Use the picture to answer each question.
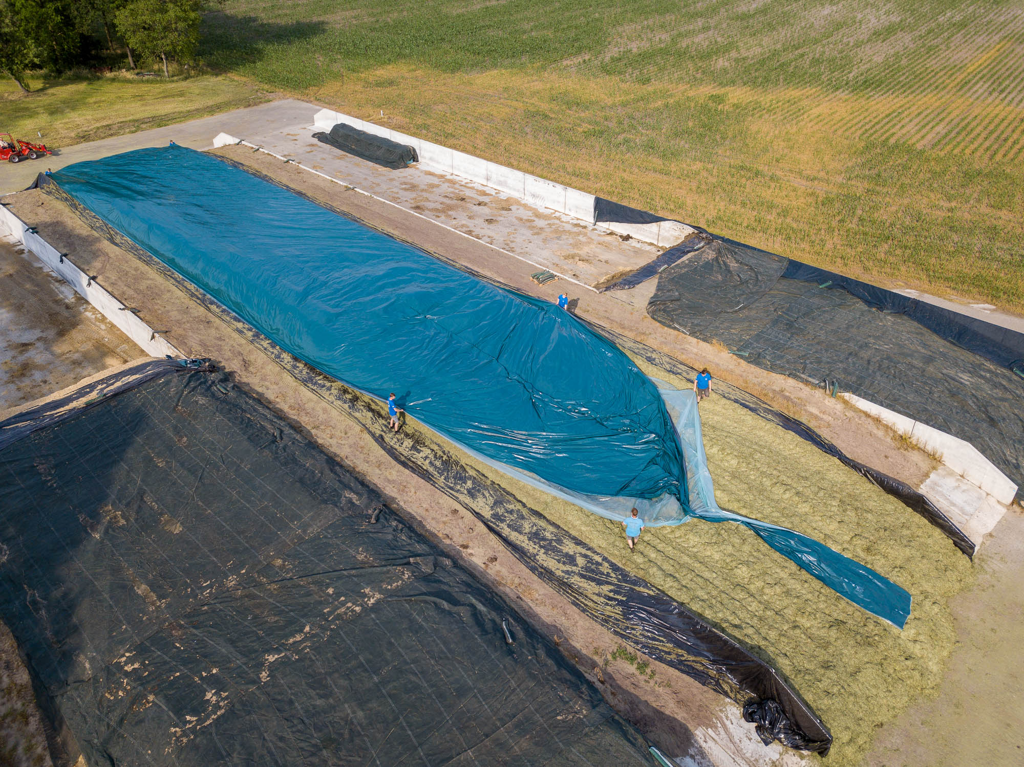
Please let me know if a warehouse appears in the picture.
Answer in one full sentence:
No, there appears to be no warehouse in this shot.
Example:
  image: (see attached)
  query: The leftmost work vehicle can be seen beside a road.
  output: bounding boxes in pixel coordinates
[0,131,53,162]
